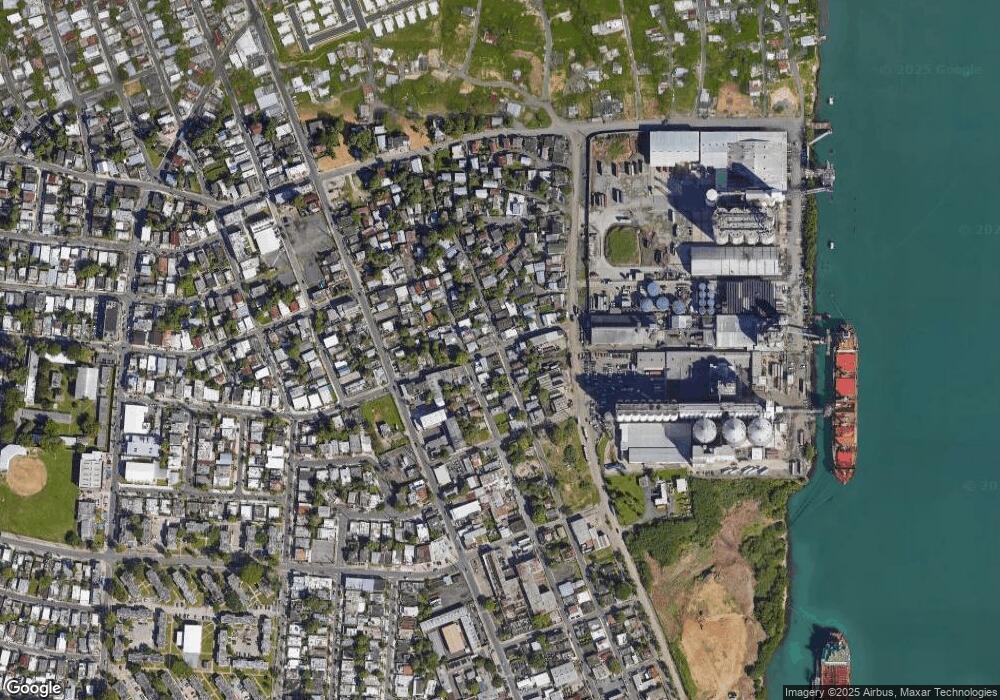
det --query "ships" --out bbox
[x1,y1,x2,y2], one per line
[820,629,853,700]
[834,321,862,484]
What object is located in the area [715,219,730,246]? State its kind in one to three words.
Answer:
silo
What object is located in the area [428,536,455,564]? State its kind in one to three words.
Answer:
house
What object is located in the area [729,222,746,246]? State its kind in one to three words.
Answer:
silo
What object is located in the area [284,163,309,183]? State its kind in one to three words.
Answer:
building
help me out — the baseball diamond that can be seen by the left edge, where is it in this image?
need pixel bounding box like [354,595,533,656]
[0,446,77,546]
